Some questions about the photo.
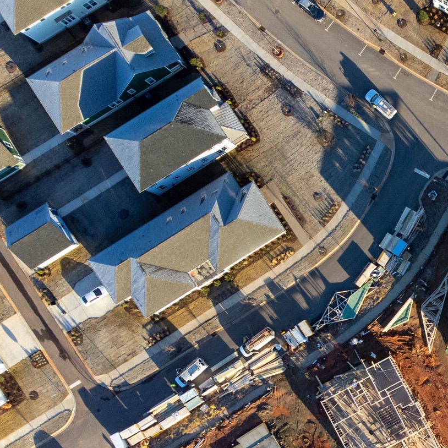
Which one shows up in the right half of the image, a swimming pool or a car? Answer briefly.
car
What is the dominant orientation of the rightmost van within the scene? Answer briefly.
at an angle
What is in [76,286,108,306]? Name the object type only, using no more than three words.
car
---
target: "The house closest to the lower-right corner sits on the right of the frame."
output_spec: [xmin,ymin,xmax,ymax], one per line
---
[317,353,445,448]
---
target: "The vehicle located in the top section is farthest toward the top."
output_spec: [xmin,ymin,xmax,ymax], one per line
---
[295,0,324,22]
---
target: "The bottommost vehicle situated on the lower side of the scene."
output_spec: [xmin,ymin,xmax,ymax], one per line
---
[171,355,209,388]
